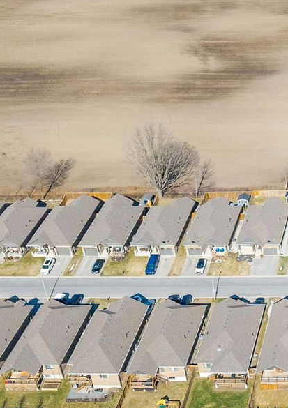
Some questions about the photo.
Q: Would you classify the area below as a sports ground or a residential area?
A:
residential area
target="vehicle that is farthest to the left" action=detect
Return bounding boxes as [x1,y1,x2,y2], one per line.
[39,259,53,272]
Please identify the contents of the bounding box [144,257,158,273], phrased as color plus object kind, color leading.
blue vehicle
